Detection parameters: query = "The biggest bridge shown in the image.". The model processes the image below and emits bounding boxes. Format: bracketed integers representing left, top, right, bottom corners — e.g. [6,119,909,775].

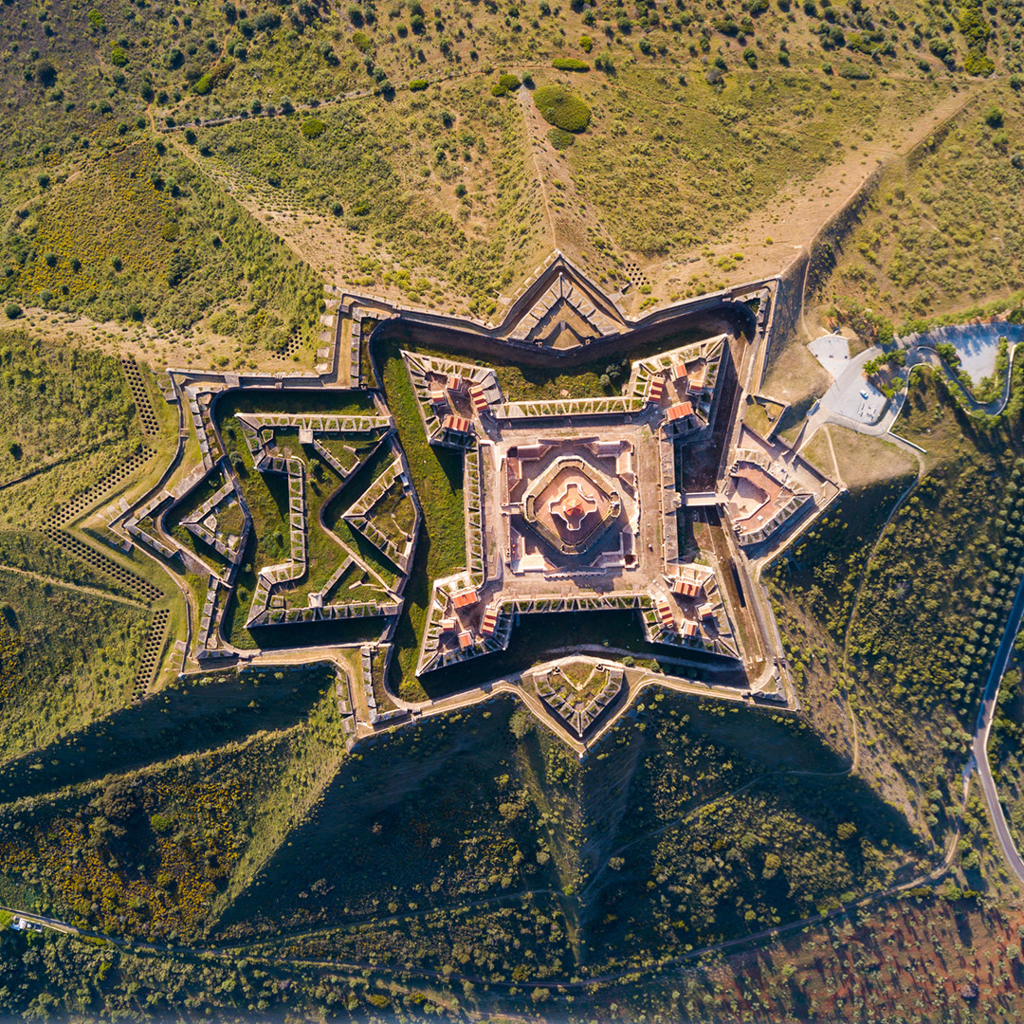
[680,488,727,511]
